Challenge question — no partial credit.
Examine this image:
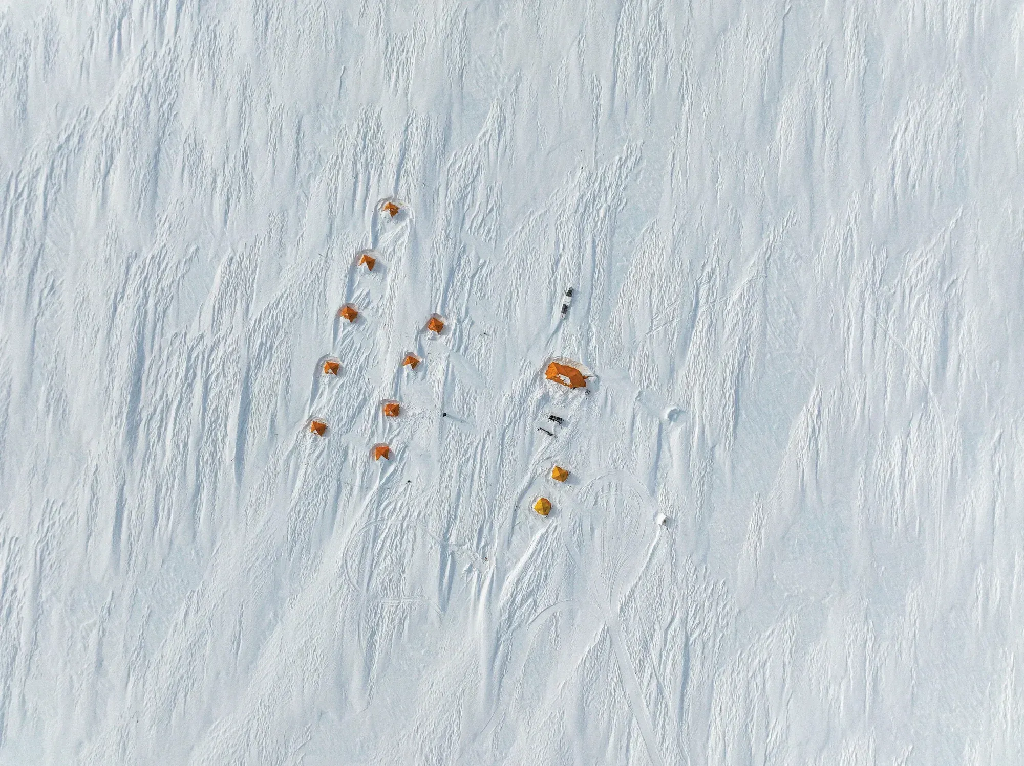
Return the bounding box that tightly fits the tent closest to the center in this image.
[545,362,592,390]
